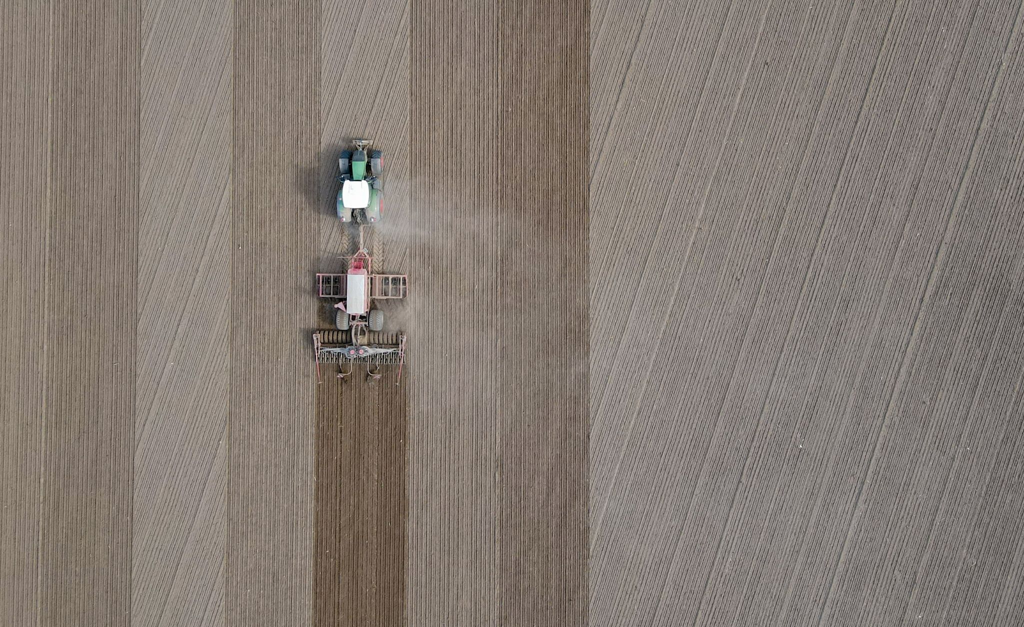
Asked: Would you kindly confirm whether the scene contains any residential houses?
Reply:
No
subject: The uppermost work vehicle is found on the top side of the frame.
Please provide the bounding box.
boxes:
[335,138,385,229]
